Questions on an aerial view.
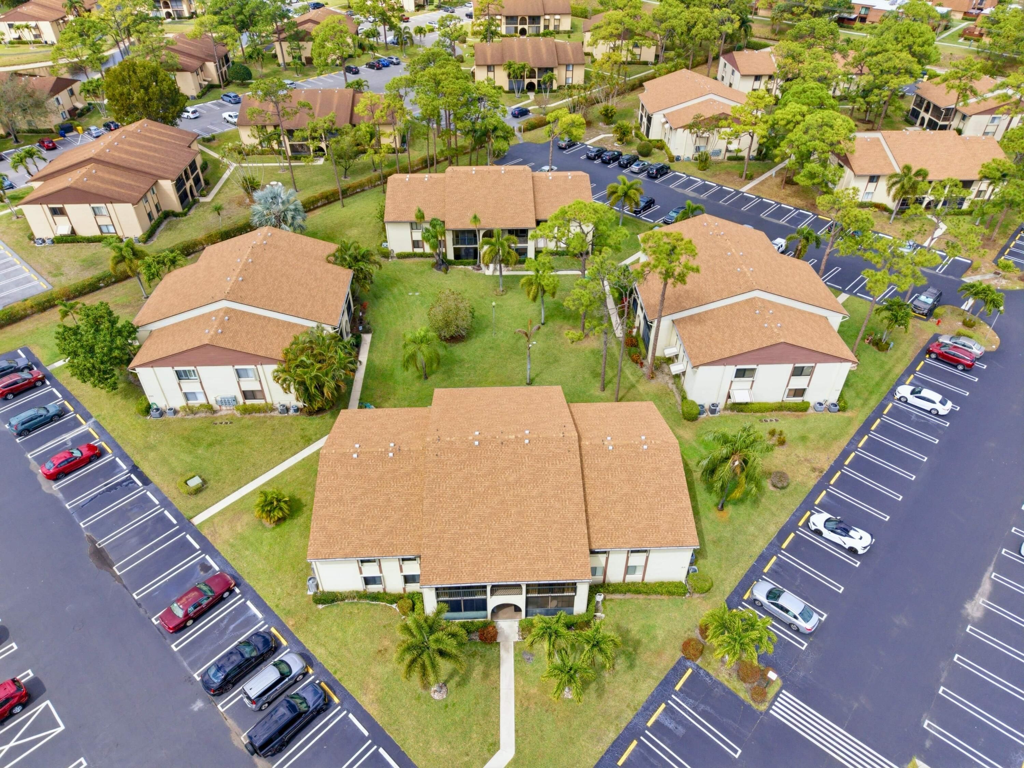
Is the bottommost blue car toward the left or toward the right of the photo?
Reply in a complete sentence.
The bottommost blue car is on the left side of the image.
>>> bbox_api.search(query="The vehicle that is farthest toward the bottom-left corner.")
[0,670,39,716]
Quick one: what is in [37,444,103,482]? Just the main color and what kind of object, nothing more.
red car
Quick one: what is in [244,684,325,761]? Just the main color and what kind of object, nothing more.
blue car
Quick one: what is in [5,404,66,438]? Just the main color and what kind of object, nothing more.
blue car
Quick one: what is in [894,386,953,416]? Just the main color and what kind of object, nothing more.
white car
